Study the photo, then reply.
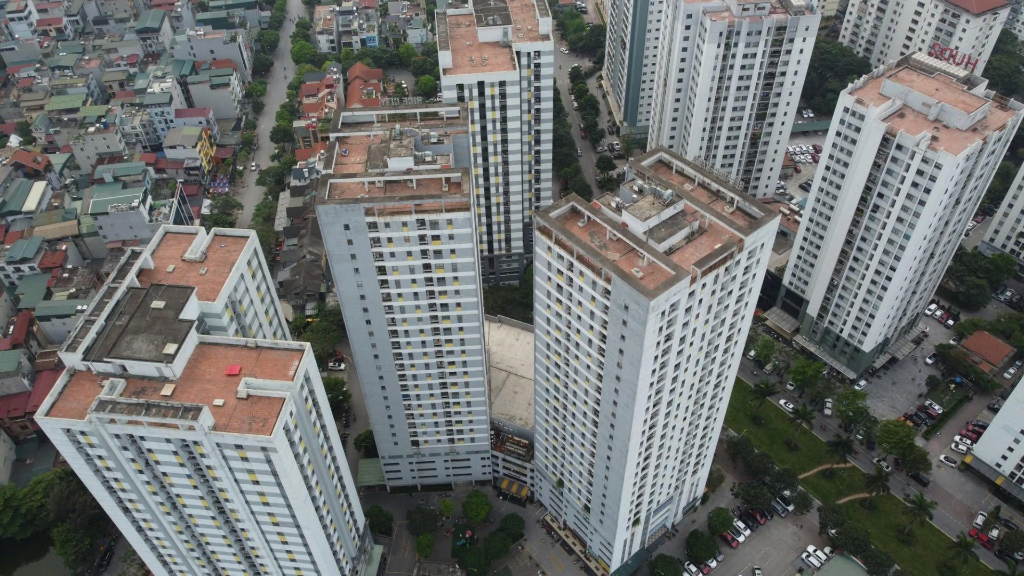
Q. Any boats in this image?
No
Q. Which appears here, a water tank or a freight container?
water tank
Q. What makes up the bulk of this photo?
buildings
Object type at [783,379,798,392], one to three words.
vehicle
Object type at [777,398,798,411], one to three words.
vehicle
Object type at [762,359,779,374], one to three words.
car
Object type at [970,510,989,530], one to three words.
car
